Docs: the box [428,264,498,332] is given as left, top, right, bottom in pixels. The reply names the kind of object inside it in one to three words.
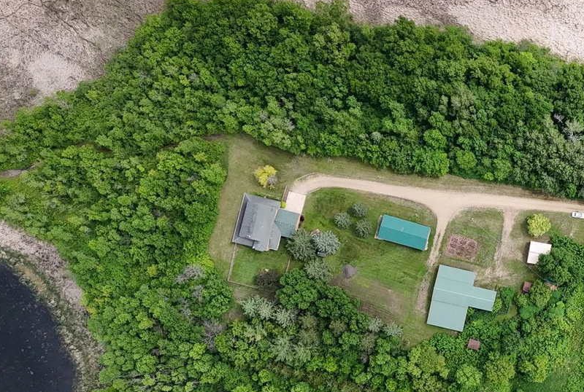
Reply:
barn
